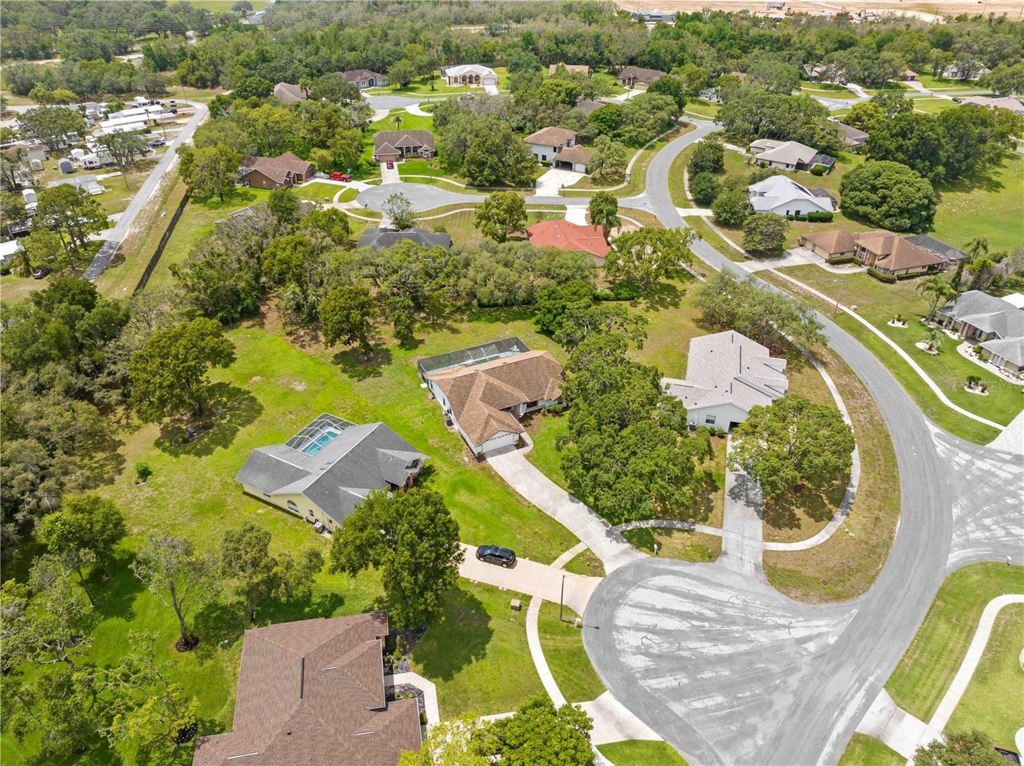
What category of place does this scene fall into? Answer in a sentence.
The picture captures a residential area.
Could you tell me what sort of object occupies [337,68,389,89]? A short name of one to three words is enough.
house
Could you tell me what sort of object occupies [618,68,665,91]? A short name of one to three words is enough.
house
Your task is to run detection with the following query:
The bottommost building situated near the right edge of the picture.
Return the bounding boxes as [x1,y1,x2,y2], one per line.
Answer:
[936,292,1024,379]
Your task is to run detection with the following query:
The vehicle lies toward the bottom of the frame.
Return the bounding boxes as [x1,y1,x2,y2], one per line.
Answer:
[473,542,519,568]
